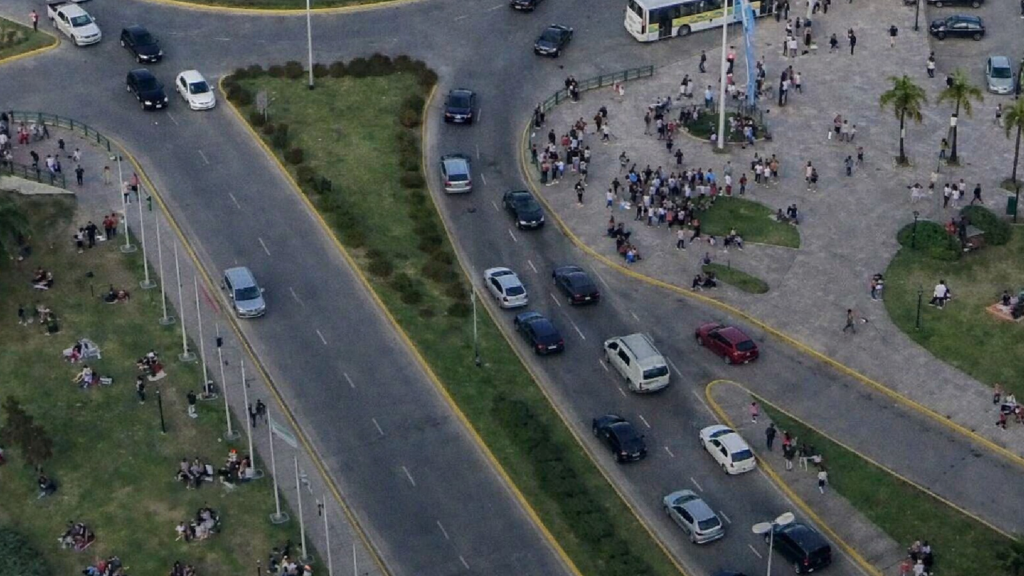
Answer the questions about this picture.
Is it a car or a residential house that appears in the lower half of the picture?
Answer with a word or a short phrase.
car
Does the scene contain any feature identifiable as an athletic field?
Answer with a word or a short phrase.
No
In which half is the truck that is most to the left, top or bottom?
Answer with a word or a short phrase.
top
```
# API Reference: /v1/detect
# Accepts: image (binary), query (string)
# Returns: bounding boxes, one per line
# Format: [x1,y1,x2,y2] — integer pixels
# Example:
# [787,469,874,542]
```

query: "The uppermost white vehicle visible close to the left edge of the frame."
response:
[45,0,99,42]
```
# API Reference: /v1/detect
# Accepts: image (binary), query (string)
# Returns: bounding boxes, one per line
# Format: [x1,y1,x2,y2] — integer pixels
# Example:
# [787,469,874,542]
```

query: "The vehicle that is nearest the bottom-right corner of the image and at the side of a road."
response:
[756,506,831,570]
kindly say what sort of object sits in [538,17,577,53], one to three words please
car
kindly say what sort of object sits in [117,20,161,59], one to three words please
car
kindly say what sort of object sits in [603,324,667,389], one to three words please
van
